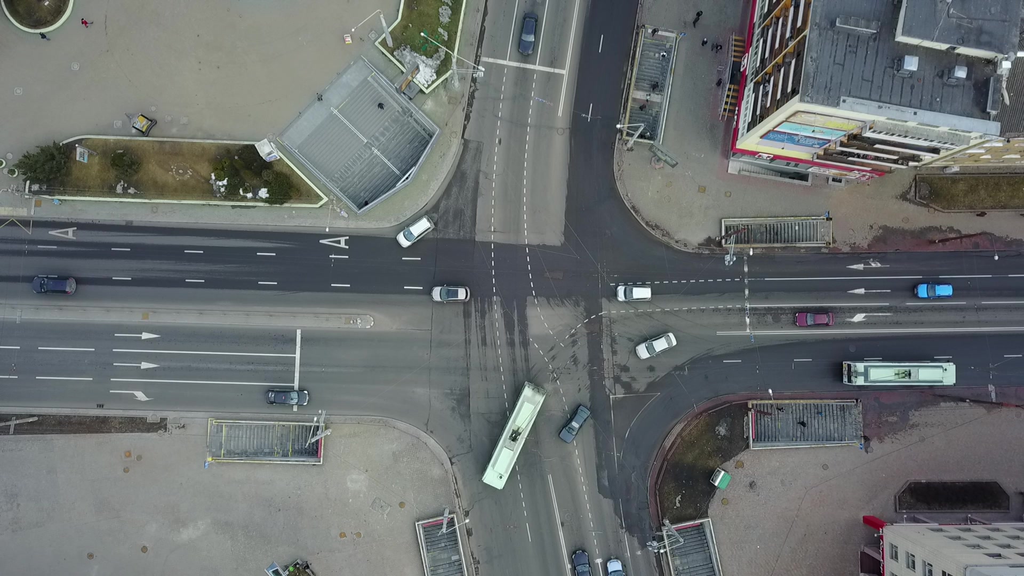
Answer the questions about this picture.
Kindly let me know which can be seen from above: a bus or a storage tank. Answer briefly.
bus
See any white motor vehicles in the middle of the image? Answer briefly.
Yes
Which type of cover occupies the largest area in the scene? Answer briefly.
paved ground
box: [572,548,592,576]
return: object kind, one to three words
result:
car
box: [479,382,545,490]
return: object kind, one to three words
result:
bus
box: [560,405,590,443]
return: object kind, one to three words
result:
car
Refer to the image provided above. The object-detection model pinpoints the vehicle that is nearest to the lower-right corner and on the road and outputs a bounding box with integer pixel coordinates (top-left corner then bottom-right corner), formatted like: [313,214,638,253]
[841,358,956,386]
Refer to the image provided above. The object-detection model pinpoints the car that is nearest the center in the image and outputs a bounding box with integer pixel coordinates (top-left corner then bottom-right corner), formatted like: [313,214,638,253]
[432,283,470,303]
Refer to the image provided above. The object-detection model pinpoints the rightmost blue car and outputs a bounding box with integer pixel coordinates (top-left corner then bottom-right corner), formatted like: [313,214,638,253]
[912,281,952,299]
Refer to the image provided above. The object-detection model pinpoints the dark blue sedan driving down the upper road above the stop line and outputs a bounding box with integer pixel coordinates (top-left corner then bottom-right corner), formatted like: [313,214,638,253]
[518,13,537,56]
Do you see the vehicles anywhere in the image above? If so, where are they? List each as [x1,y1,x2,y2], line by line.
[616,283,651,302]
[560,405,590,443]
[841,358,956,386]
[397,215,434,248]
[635,331,676,360]
[266,387,311,407]
[518,13,537,56]
[432,283,470,303]
[479,382,545,490]
[794,309,834,328]
[912,281,952,299]
[606,556,626,576]
[572,548,592,576]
